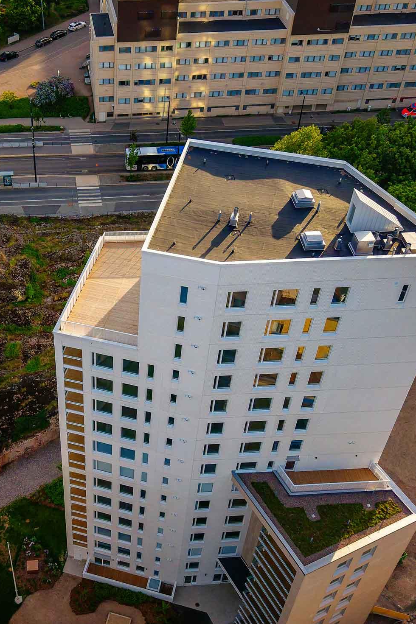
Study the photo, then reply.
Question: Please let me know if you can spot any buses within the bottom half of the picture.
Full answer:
No, no bus appears within the bottom half of the picture.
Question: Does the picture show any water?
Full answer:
No, there is no water in the image.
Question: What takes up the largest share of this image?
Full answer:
The bulk of the photo consists of buildings.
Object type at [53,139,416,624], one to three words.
building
